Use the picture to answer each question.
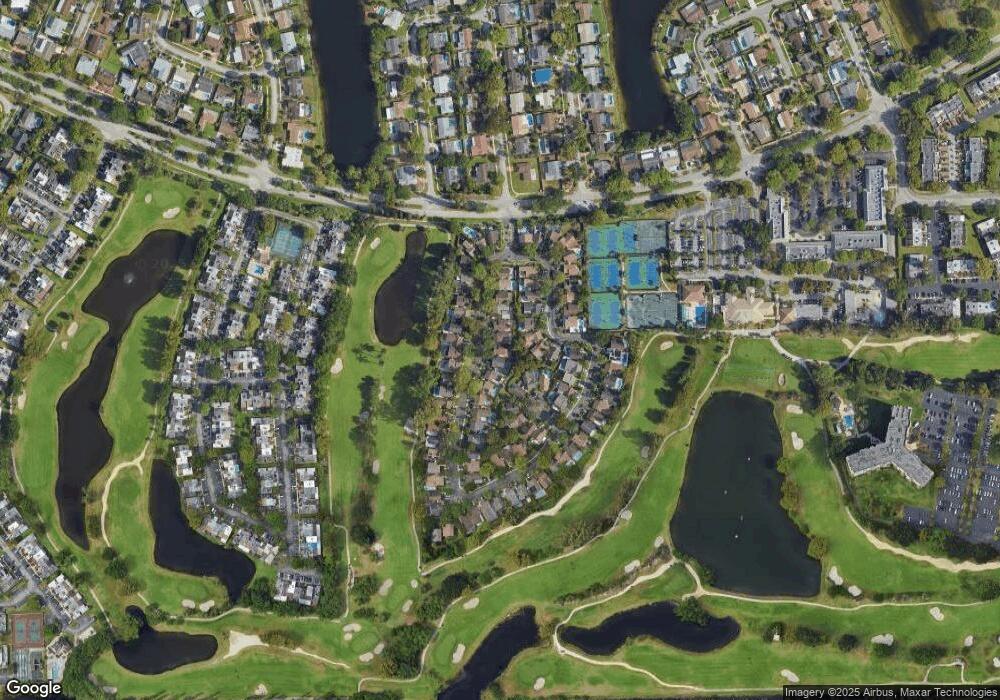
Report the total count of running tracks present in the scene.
0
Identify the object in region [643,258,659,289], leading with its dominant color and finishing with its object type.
blue tennis court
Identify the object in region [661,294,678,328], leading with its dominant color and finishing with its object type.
gray tennis court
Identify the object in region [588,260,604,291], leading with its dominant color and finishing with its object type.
blue tennis court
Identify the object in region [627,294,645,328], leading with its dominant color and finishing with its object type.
gray tennis court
